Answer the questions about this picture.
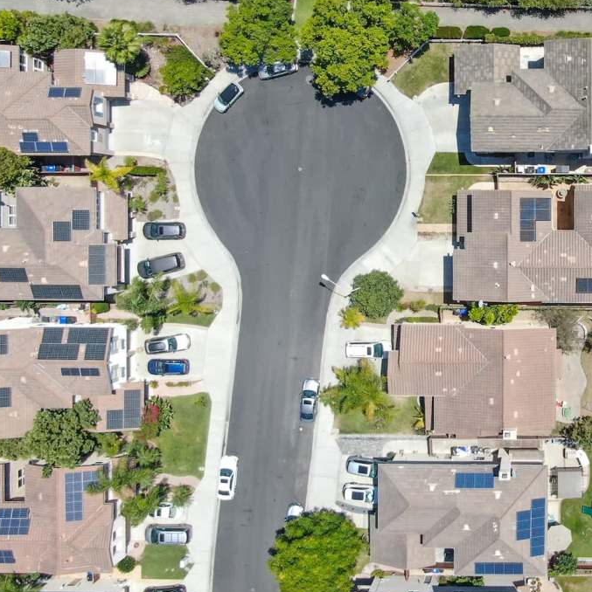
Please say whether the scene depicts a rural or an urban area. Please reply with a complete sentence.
It looks urban.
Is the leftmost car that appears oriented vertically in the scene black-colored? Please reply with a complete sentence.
No, the leftmost car that appears oriented vertically is white.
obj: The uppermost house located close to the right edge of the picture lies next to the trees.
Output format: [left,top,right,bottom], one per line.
[455,31,592,162]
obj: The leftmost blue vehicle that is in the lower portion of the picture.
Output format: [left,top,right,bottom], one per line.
[147,357,191,377]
